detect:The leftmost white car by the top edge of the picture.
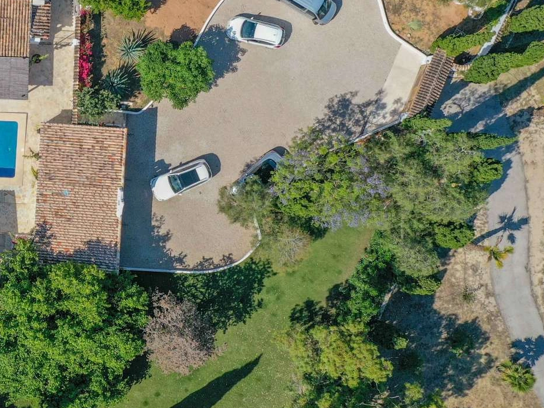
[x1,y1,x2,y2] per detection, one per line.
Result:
[224,13,285,49]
